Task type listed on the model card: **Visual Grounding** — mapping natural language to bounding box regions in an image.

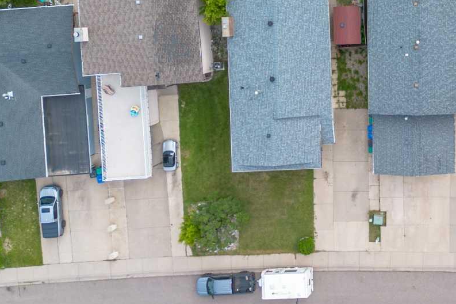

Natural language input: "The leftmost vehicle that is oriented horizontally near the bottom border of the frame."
[197,271,258,298]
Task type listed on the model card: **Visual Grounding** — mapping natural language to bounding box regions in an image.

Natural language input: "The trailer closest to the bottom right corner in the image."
[258,268,313,301]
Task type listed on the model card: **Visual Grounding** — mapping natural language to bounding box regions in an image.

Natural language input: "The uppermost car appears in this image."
[159,140,180,170]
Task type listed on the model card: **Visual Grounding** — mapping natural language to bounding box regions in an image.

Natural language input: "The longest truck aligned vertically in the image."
[36,183,64,242]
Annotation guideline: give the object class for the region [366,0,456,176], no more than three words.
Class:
house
